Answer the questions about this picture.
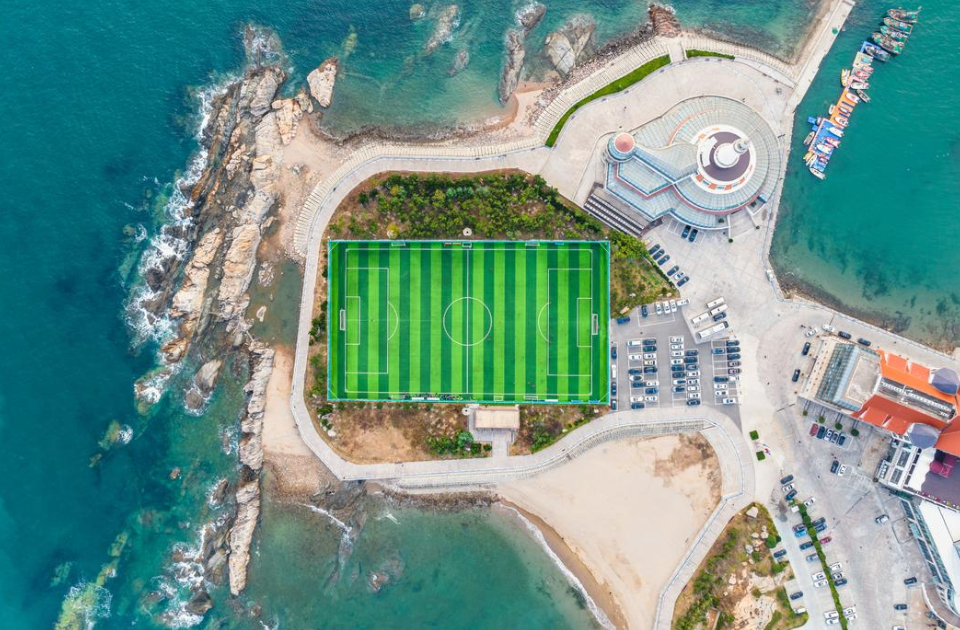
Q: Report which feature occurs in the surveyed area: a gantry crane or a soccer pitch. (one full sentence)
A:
This aerial view contains a soccer pitch.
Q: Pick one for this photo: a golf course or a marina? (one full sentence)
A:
The area seen from above is a marina.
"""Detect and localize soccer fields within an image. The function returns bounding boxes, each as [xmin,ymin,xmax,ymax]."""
[328,241,609,404]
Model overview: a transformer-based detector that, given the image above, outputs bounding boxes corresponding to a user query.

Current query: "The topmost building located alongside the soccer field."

[604,94,783,240]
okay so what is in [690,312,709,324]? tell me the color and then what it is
white vehicle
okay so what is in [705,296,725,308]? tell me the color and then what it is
white vehicle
